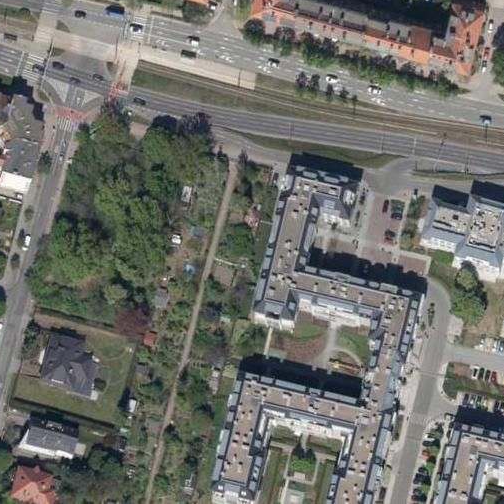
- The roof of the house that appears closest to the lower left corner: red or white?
red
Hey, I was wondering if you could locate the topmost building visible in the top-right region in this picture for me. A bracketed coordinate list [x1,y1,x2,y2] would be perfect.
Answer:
[252,0,487,87]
